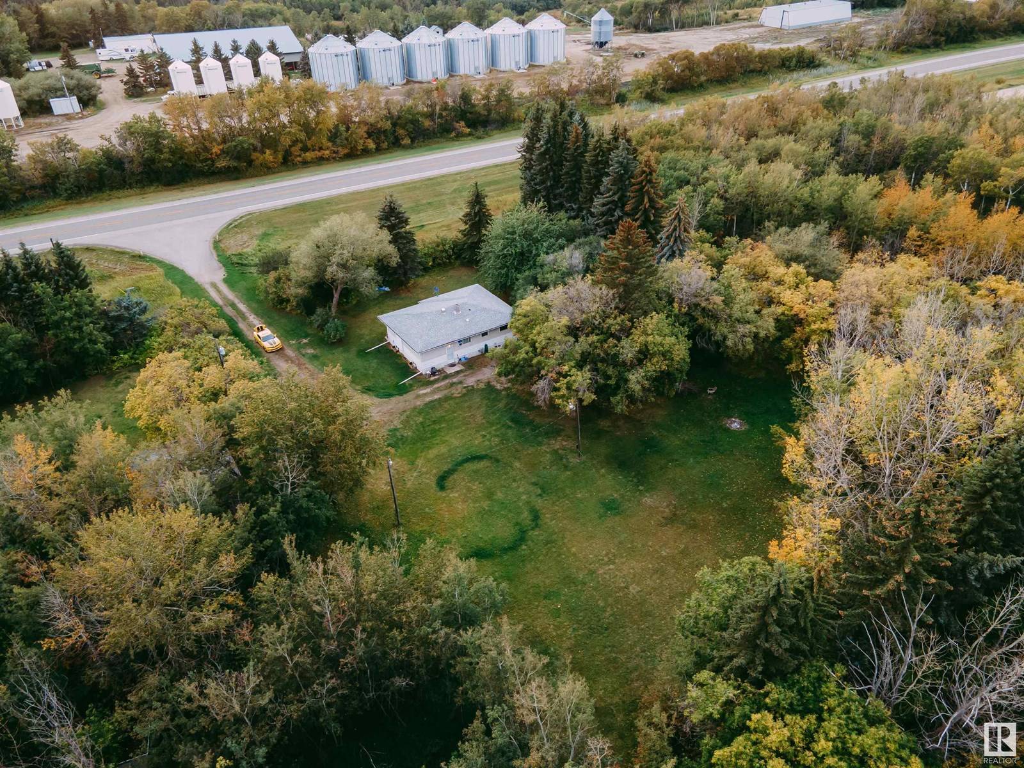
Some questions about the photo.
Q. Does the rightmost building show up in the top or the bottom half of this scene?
top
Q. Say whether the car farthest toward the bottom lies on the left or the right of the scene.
left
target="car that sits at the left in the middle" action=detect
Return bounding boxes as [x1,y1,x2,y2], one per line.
[254,321,282,351]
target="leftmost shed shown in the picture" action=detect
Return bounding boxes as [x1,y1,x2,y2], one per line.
[47,97,84,115]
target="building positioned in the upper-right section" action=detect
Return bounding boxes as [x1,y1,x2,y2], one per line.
[754,0,853,29]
